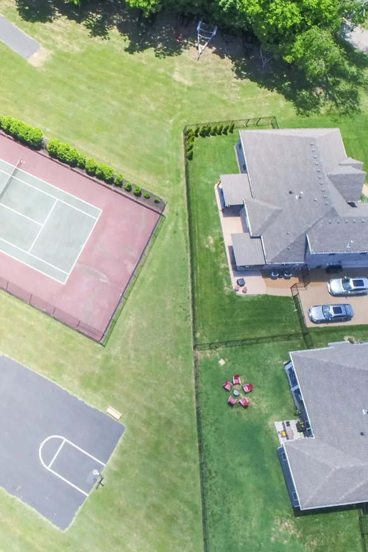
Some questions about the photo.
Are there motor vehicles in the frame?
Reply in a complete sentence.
Yes, there is a motor vehicle in the image.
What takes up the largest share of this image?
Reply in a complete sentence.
The scene is dominated by grass.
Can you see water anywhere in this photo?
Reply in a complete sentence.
No, the scene doesn't show any water.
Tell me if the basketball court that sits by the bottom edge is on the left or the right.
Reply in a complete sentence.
You can find the basketball court that sits by the bottom edge on the left side of the picture.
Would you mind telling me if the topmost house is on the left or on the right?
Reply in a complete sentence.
The topmost house appears in the right half of the scene.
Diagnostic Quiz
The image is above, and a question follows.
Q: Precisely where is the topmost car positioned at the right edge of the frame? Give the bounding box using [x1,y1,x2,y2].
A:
[326,276,368,296]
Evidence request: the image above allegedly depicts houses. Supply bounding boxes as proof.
[215,128,368,272]
[278,340,368,511]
